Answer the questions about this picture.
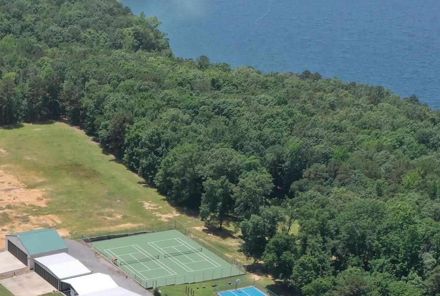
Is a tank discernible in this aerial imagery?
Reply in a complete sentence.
No, the scene contains no tank.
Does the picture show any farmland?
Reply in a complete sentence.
No, farmland can't be seen anywhere here.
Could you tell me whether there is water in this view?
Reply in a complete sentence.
Yes, the picture does contain water.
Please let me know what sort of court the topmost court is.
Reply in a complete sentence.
In the photo, the topmost court shows up as a tennis court.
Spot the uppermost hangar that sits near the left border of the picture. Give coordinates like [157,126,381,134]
[5,229,70,270]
